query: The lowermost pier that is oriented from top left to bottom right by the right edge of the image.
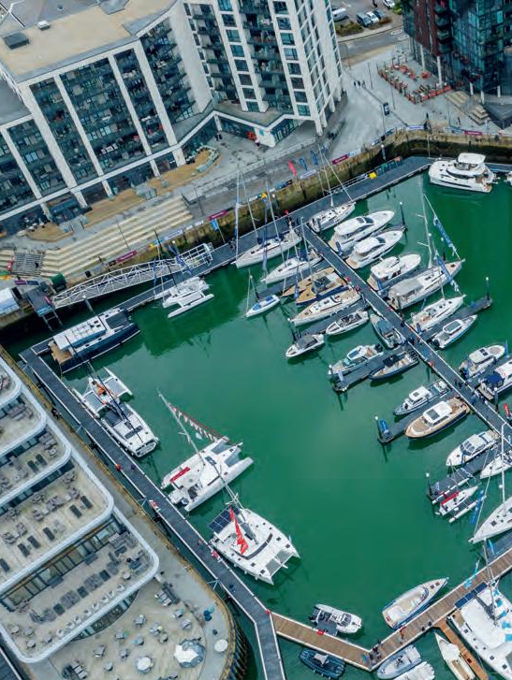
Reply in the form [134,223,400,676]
[435,618,491,680]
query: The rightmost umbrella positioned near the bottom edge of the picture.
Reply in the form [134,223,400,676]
[208,633,227,650]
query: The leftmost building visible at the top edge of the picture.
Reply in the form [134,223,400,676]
[0,0,226,236]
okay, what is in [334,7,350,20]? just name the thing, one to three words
vehicle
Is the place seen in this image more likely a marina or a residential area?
marina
